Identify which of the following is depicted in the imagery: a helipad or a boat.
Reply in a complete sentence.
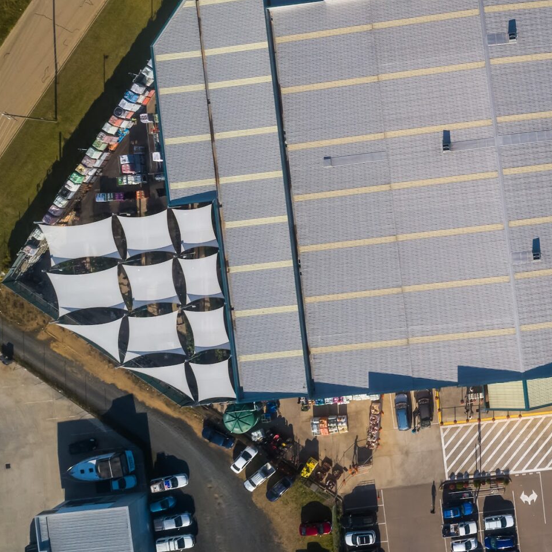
There is a boat in the scene.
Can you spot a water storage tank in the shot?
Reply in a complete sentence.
Yes, looking at the shot, I can spot a water storage tank.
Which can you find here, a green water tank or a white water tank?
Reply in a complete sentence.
There is a green water tank in the scene.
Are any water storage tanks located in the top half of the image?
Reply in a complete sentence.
No, no water storage tank is visible in the top half of the image.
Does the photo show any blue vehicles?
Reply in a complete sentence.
Yes, you can see a blue vehicle in this photo.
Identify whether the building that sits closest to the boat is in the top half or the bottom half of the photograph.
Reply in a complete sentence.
The building that sits closest to the boat is in the bottom half of the image.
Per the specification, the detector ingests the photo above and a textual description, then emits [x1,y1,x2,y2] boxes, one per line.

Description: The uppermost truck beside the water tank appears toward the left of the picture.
[197,423,239,452]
